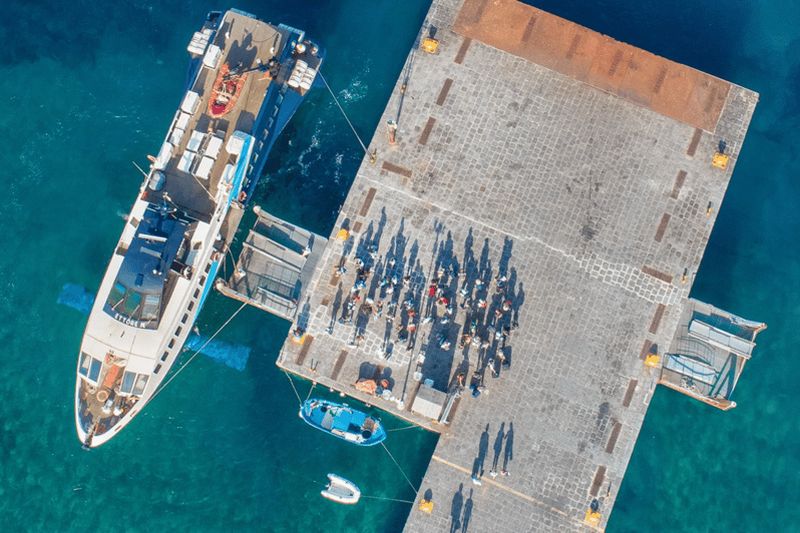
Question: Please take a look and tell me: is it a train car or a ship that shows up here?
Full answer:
It is a ship that can be seen here.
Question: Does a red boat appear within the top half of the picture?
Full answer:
Yes, a red boat appears within the top half of the picture.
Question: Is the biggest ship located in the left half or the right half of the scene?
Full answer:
The biggest ship appears in the left half of the scene.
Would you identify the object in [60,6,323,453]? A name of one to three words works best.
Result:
ship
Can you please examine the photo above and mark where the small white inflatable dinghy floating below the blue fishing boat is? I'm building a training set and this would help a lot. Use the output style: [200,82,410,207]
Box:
[320,474,362,502]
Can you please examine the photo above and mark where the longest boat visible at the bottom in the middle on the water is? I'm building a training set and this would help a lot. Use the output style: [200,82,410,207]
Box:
[296,398,387,445]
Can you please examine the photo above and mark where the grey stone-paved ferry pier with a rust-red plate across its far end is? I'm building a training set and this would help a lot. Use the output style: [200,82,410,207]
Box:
[277,0,759,533]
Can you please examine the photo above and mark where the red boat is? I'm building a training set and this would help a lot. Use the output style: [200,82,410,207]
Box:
[211,63,246,119]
